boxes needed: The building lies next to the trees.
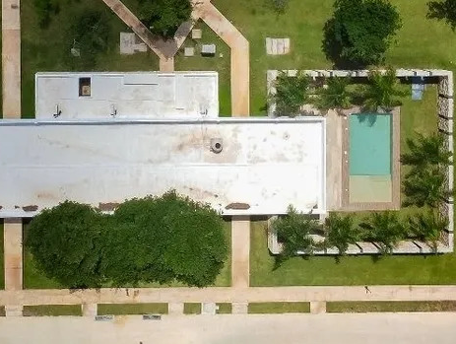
[0,69,327,218]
